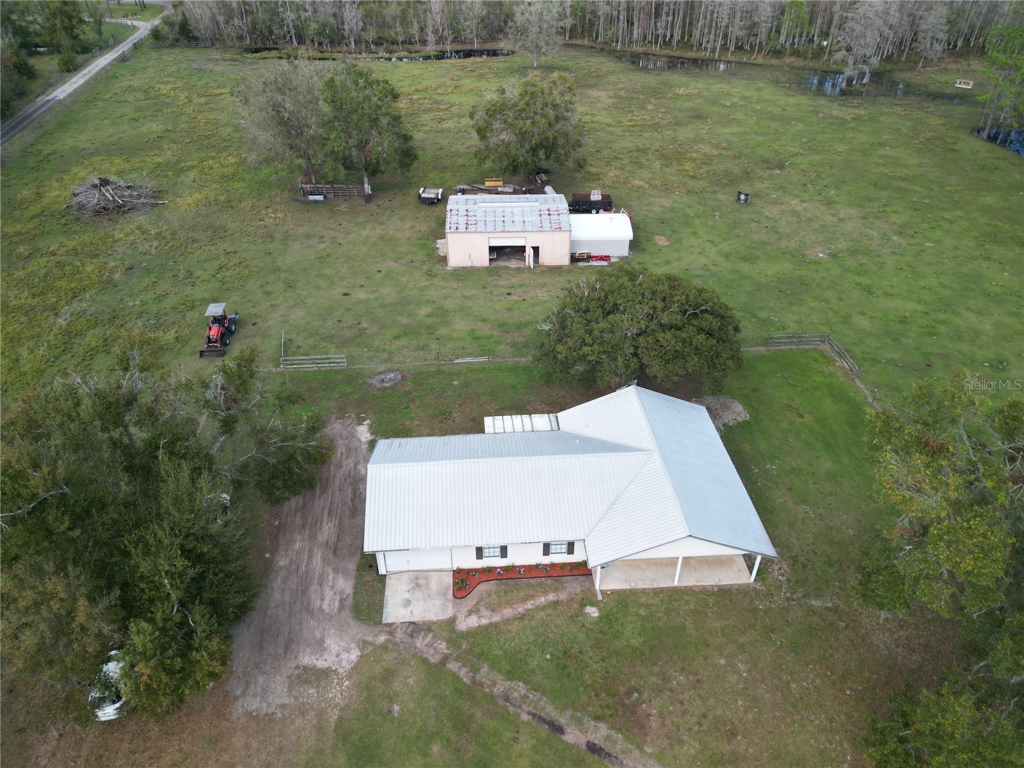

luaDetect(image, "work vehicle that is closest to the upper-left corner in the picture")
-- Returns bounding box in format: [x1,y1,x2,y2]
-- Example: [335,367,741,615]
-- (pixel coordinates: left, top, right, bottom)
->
[200,304,238,357]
